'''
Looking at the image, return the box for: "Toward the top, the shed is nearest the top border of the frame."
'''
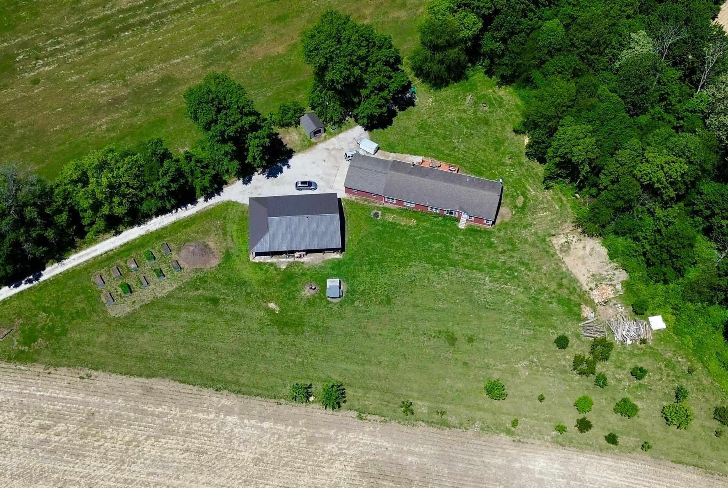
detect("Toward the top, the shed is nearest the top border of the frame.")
[299,113,324,138]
